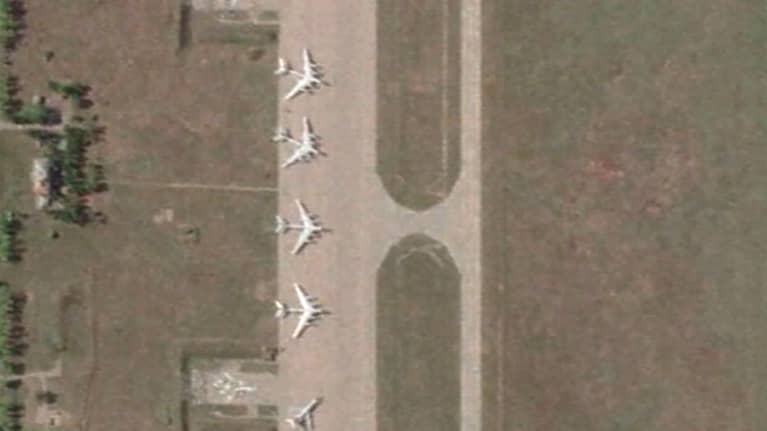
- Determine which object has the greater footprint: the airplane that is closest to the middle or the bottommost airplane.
the airplane that is closest to the middle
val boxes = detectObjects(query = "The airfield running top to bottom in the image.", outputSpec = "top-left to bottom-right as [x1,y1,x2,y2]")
[278,0,482,431]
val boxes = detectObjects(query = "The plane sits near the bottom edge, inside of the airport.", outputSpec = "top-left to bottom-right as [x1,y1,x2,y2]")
[284,399,319,430]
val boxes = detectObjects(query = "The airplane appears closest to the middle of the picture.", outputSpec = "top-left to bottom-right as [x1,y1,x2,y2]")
[277,199,330,253]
